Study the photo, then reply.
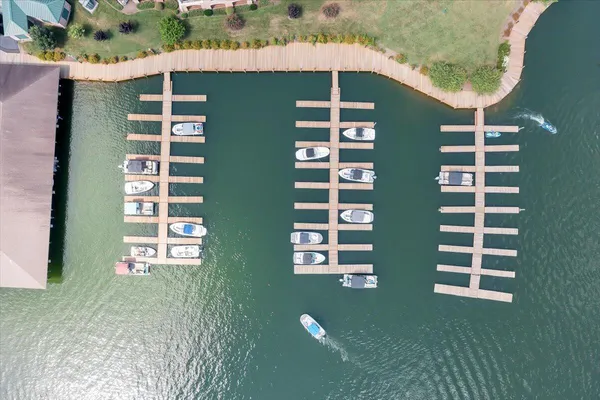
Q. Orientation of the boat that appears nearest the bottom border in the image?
on a diagonal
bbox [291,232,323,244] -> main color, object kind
white boat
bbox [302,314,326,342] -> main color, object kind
white boat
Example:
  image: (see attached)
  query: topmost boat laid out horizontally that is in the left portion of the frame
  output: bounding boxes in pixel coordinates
[172,122,204,135]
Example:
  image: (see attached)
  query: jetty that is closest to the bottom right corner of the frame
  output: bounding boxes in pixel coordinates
[434,108,519,302]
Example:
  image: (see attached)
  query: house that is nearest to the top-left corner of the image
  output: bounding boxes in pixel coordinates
[3,0,77,42]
